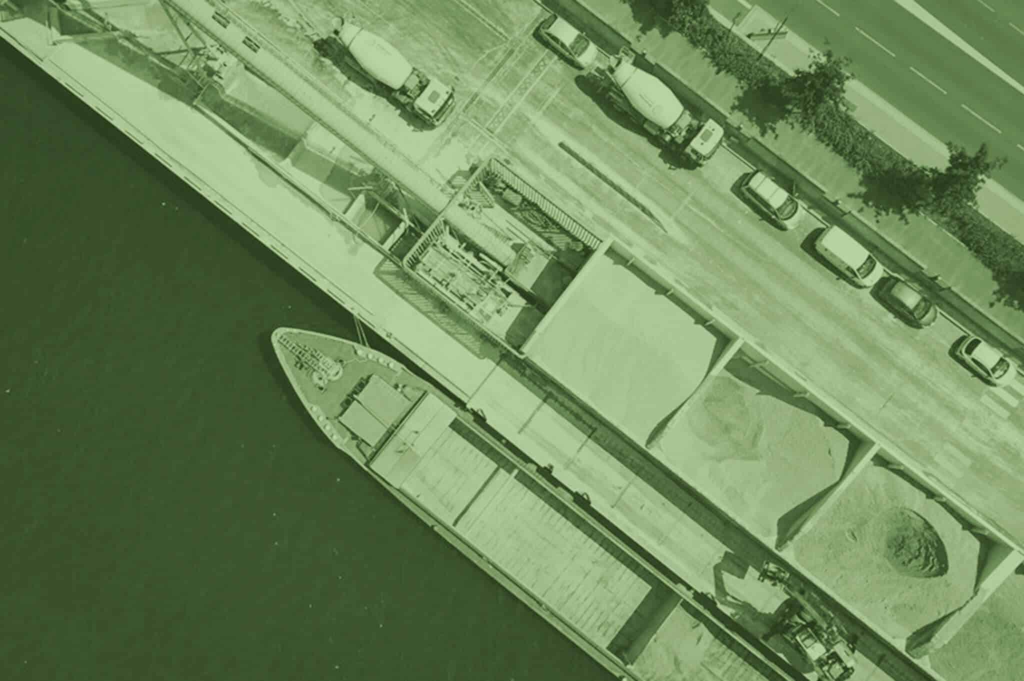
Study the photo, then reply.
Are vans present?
Yes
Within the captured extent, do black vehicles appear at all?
No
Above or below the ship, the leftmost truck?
above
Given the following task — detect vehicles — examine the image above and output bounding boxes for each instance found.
[741,171,806,231]
[953,335,1015,388]
[327,11,464,132]
[875,275,940,331]
[755,553,874,681]
[600,46,735,171]
[538,14,600,69]
[813,226,884,287]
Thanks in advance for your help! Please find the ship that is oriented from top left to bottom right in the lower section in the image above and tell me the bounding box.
[271,327,792,681]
